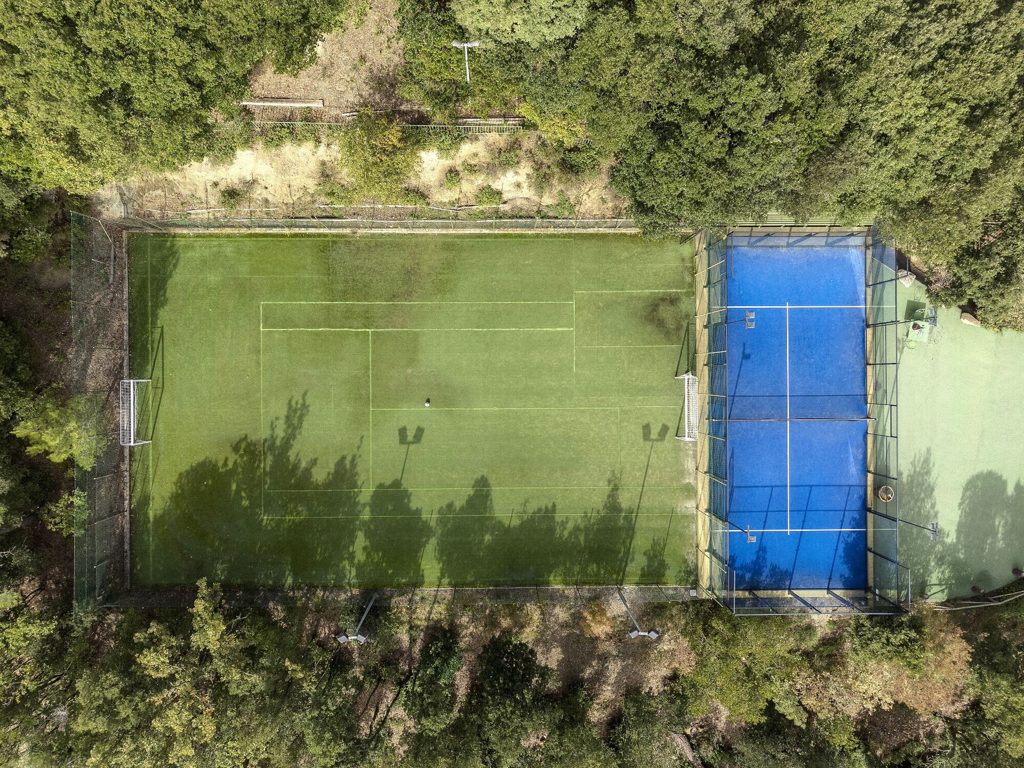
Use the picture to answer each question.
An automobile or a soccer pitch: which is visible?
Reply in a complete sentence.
The image shows a soccer pitch.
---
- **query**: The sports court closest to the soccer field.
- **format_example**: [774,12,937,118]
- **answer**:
[696,226,876,599]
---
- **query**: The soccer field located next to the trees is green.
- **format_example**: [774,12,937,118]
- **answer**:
[123,225,696,591]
